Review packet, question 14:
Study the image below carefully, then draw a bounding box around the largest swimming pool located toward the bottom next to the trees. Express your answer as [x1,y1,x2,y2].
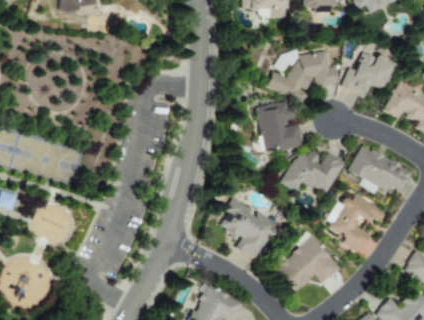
[248,192,269,210]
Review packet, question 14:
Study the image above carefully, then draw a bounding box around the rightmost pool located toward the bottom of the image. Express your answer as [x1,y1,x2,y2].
[296,194,315,207]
